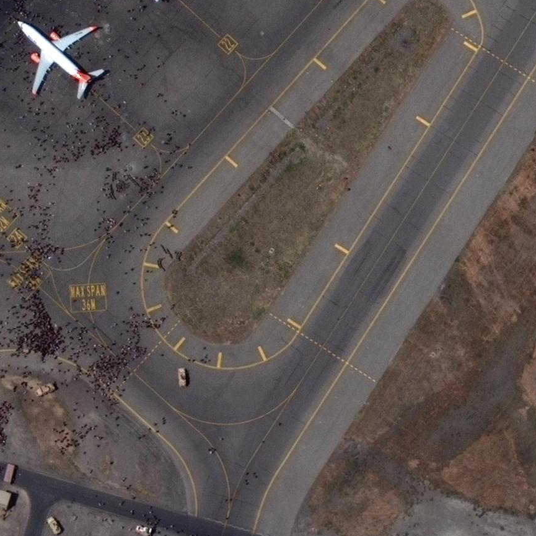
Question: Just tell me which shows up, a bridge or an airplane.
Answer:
airplane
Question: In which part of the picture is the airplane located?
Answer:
top left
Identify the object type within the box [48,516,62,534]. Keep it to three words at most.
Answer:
vehicle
